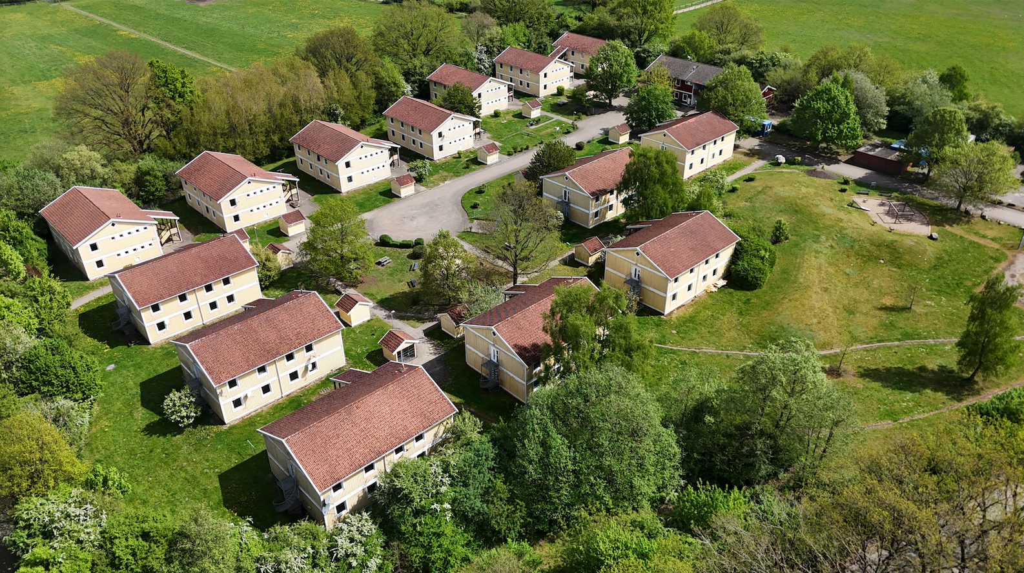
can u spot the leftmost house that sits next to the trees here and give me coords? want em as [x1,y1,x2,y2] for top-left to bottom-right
[40,181,182,278]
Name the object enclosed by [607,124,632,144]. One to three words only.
shed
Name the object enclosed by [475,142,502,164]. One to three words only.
shed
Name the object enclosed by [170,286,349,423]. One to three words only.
house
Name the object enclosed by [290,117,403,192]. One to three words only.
house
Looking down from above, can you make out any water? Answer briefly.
No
